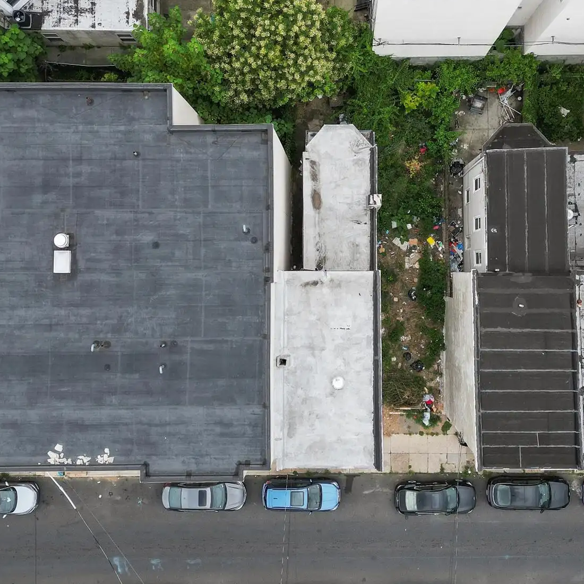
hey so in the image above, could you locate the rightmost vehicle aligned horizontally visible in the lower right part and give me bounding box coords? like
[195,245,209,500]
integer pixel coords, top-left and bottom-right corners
[485,475,570,515]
